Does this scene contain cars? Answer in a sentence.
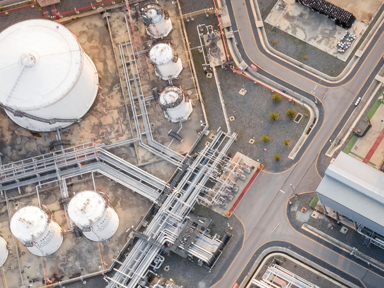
No, I find no car anywhere in the image.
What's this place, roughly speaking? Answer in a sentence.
It's an industrial area.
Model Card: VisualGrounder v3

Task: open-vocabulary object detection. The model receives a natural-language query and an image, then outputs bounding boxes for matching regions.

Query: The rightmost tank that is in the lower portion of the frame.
[66,190,120,241]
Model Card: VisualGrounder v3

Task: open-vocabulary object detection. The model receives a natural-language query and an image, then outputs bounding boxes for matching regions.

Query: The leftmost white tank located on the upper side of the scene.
[0,17,98,135]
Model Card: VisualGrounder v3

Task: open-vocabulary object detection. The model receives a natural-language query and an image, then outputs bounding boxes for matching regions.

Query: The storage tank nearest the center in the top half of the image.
[156,80,195,127]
